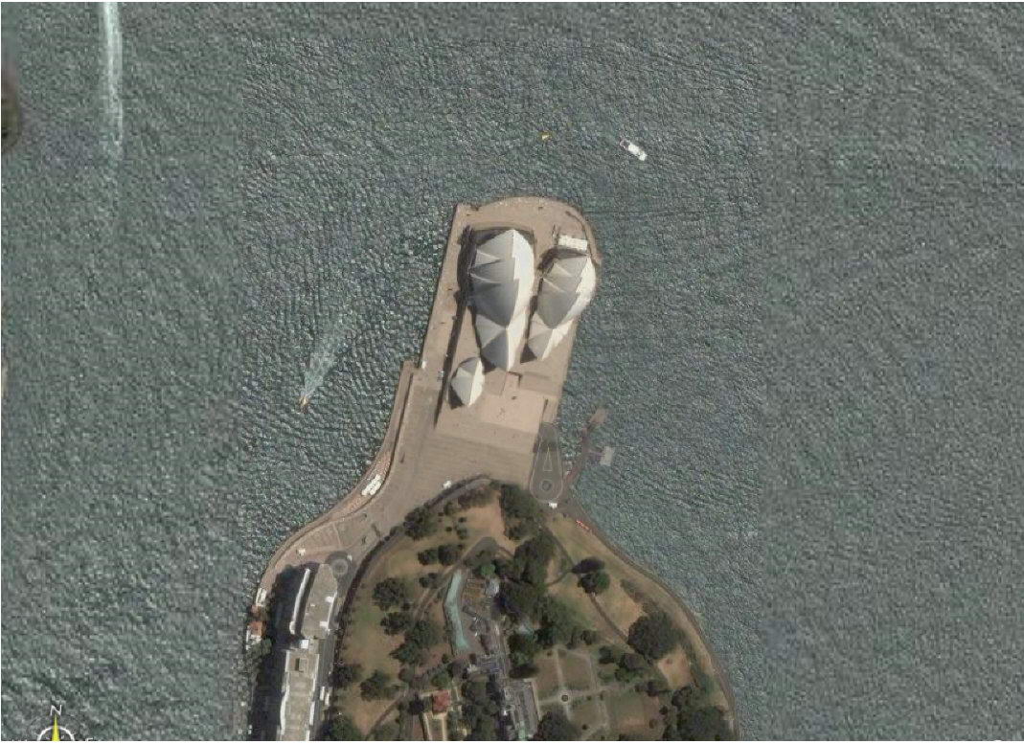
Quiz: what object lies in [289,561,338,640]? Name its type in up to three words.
building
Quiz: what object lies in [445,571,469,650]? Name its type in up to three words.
building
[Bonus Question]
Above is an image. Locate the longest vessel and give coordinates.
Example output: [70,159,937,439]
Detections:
[619,136,647,160]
